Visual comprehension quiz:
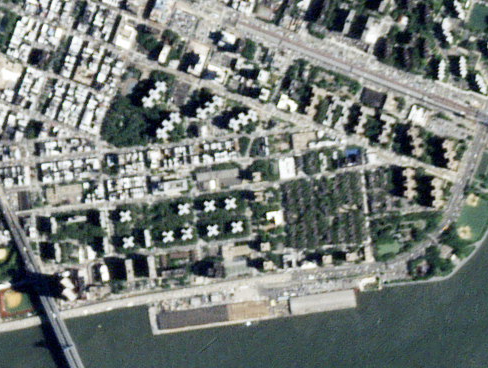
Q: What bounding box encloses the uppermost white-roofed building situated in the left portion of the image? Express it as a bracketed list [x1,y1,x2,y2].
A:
[151,0,174,24]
